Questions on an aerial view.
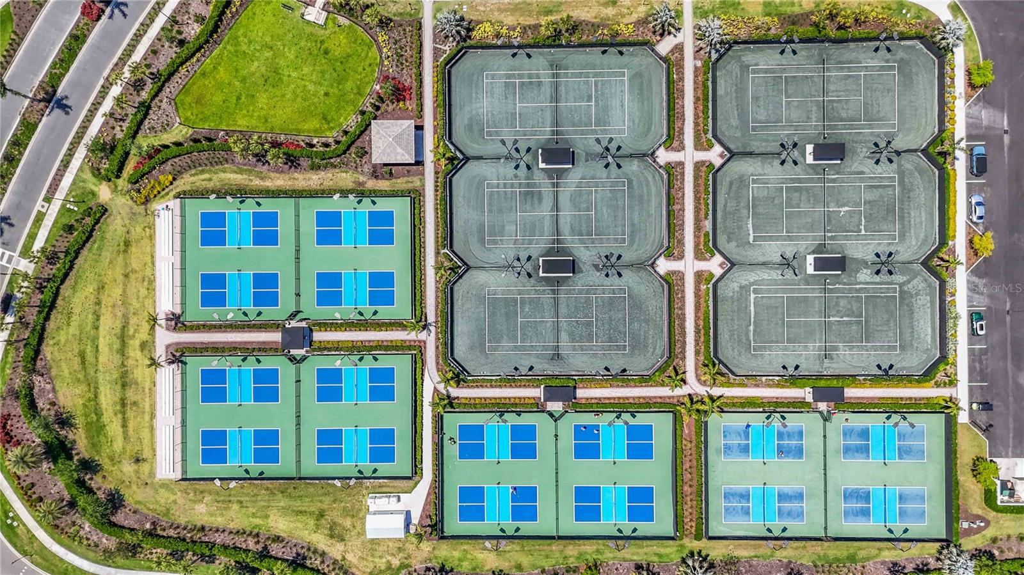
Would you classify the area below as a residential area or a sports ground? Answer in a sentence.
It's a sports ground.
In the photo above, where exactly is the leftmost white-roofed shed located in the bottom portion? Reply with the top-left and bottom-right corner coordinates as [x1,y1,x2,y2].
[363,510,407,540]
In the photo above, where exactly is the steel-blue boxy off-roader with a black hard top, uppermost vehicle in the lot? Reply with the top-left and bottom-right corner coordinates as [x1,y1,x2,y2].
[970,146,988,175]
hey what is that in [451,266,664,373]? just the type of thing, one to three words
tennis court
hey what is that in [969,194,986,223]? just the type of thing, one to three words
car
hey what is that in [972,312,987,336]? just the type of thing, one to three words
car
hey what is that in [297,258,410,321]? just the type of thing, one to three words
sports court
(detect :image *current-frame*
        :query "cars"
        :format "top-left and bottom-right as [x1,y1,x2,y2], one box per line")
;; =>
[969,194,986,223]
[972,312,987,336]
[970,146,988,175]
